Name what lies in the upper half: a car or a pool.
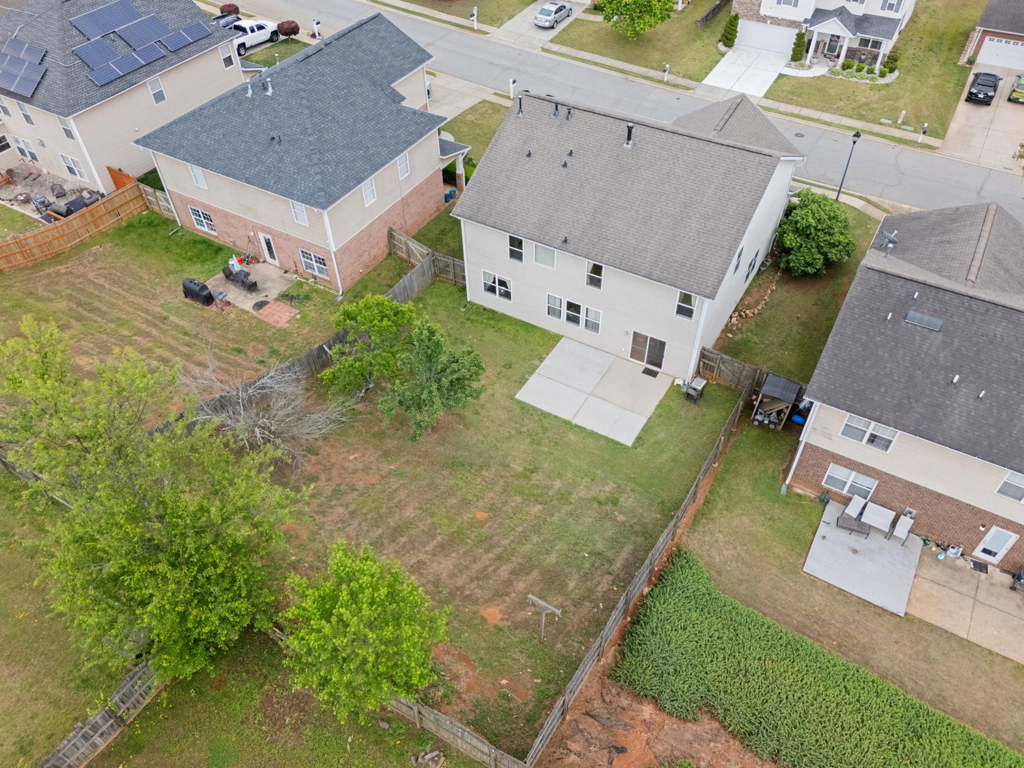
car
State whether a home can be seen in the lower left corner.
No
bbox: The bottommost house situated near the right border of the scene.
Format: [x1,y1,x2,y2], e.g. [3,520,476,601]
[782,200,1024,576]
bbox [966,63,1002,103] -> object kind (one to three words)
car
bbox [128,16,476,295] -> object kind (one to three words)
house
